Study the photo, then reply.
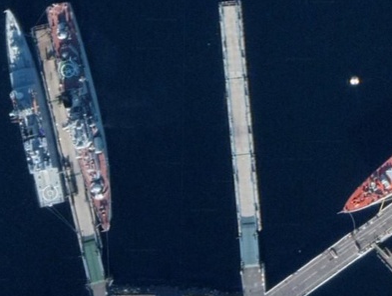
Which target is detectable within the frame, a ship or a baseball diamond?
ship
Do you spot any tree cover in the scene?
No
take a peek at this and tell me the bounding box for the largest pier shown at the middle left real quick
[30,20,98,240]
